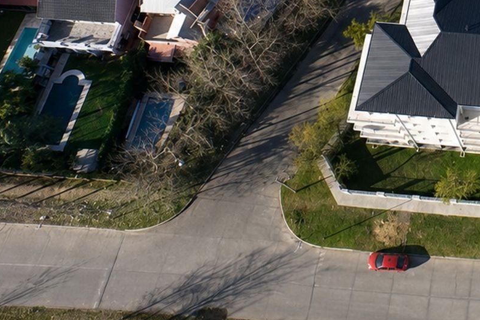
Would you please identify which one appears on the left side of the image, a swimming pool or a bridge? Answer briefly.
swimming pool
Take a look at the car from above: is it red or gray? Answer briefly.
red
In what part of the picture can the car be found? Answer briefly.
bottom right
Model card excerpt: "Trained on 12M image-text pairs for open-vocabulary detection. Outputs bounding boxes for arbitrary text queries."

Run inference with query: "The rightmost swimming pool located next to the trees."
[125,94,177,149]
